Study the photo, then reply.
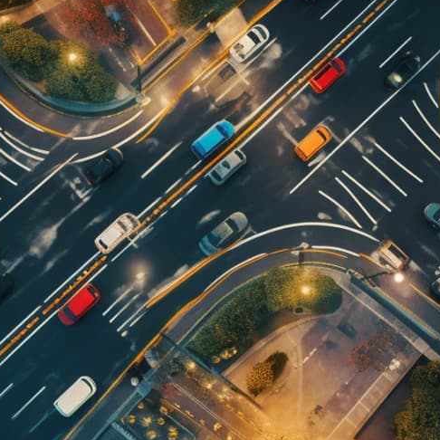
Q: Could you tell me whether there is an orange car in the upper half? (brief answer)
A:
Yes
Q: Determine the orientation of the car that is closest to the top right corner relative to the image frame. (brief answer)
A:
diagonally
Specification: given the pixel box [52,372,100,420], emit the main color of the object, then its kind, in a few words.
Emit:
white car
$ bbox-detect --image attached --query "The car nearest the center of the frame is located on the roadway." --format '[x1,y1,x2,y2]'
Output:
[196,207,253,260]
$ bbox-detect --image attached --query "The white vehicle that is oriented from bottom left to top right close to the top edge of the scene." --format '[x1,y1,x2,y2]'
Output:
[227,21,273,64]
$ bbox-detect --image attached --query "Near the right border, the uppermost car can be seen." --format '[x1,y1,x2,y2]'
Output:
[380,49,424,91]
